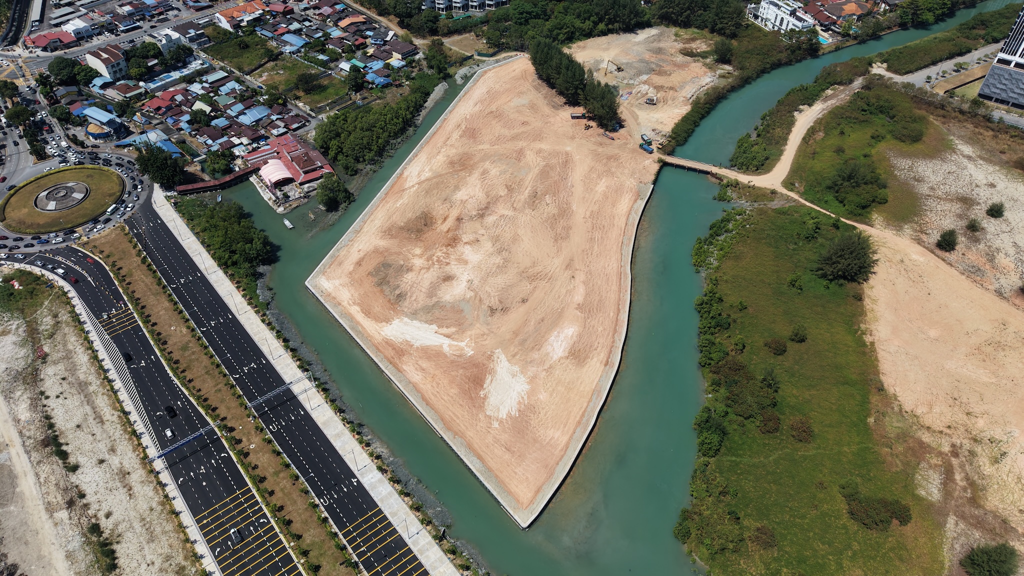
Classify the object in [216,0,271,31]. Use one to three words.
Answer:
house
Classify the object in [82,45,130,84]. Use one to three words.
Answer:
house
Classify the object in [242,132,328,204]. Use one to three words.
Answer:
building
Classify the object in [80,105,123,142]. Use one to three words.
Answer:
building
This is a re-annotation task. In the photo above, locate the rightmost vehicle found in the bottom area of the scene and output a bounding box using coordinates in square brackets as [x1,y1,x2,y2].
[230,527,243,544]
